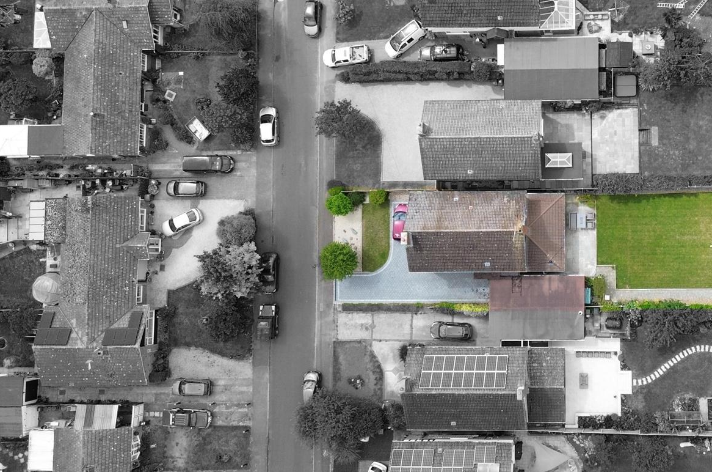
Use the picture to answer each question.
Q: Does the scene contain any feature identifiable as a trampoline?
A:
No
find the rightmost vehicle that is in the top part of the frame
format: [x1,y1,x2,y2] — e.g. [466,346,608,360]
[420,41,465,63]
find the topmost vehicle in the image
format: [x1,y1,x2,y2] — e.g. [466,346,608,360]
[302,0,324,38]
